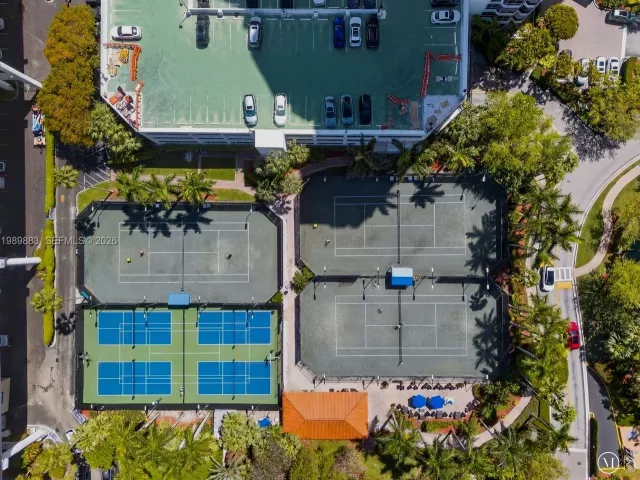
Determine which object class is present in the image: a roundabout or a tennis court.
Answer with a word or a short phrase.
tennis court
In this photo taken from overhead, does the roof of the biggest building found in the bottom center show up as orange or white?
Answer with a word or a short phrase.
orange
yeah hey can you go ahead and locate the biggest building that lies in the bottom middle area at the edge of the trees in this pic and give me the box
[282,388,368,439]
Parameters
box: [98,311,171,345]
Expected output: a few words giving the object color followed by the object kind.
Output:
blue sports court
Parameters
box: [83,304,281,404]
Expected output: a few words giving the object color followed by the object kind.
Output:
green tennis court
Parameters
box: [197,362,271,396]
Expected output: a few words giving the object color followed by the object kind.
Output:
blue sports court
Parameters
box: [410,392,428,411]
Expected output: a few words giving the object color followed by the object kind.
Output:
blue umbrella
